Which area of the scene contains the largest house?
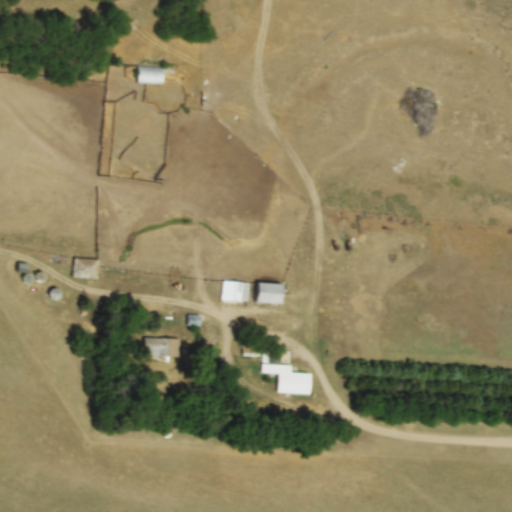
bottom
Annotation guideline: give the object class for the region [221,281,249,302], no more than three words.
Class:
barn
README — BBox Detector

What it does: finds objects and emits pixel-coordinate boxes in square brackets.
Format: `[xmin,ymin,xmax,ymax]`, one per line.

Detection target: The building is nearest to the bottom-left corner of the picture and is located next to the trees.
[145,338,180,365]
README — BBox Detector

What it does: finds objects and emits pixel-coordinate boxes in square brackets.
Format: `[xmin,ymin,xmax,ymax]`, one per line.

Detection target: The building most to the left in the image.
[74,259,98,278]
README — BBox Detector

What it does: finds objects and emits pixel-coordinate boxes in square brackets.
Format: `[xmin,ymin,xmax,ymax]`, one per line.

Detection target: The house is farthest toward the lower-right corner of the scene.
[242,348,311,396]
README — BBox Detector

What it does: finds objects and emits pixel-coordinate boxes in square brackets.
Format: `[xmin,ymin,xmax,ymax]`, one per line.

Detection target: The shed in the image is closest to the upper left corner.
[138,66,164,84]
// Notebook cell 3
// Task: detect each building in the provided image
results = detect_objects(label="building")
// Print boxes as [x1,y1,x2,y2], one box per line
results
[74,259,98,278]
[187,314,204,327]
[138,66,164,84]
[256,284,286,304]
[145,338,180,365]
[242,348,311,396]
[221,281,249,302]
